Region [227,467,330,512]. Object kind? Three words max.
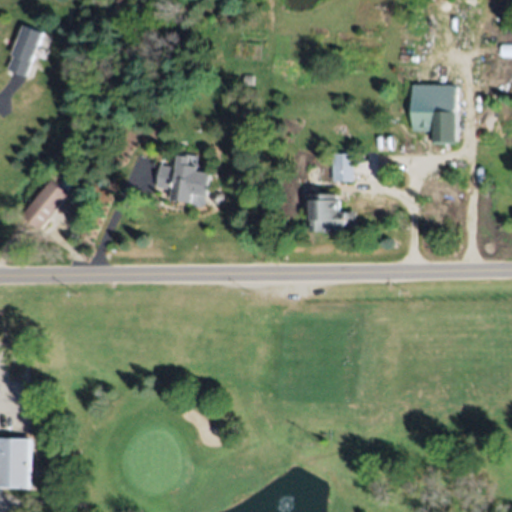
pond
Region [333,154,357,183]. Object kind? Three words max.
shed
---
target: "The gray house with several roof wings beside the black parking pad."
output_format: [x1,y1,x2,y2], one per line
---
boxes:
[157,154,210,207]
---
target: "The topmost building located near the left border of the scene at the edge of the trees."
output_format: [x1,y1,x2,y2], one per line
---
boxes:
[8,25,51,78]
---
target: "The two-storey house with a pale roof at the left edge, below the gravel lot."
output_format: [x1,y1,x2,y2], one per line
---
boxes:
[0,438,32,490]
